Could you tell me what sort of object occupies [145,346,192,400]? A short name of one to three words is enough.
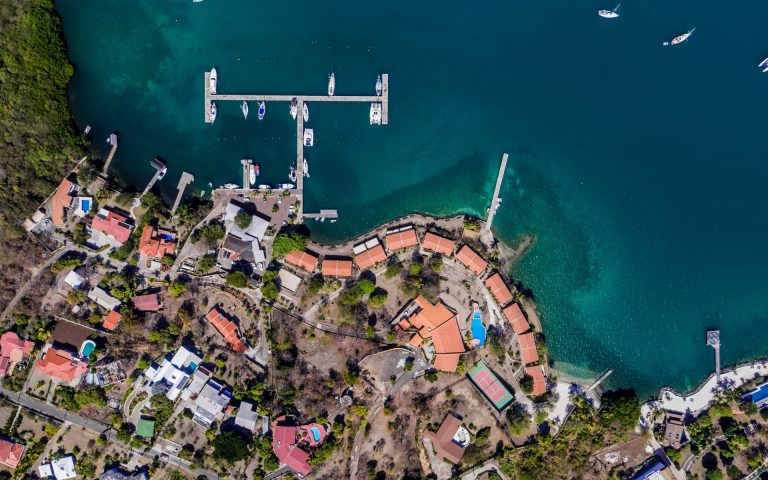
house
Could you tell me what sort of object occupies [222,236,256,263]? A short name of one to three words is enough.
building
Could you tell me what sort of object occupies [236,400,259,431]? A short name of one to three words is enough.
house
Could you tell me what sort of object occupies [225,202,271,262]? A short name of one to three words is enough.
building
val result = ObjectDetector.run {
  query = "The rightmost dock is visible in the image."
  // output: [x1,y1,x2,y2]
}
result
[705,331,720,374]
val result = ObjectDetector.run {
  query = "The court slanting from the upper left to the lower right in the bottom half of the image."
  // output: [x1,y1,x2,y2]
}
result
[466,359,517,412]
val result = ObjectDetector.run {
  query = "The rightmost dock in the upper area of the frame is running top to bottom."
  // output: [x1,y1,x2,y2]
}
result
[486,153,508,230]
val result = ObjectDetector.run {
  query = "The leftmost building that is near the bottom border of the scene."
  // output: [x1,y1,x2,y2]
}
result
[0,435,28,468]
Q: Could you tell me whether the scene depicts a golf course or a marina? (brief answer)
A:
marina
